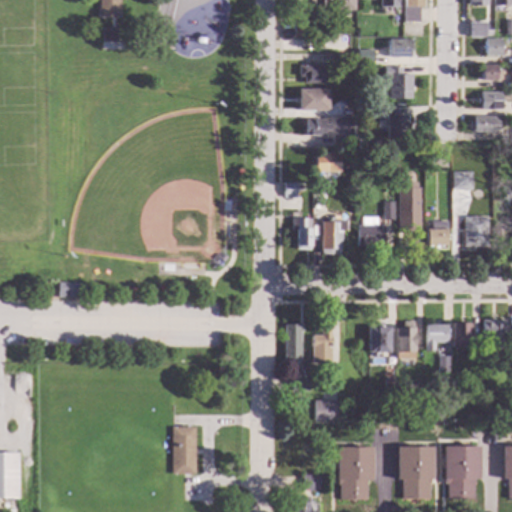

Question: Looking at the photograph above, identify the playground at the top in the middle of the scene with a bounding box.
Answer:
[174,0,230,59]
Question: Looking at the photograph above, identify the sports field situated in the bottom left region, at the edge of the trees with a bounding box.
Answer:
[40,361,186,512]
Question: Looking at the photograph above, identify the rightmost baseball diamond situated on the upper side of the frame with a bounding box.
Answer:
[70,105,226,263]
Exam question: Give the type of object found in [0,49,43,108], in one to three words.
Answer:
soccer field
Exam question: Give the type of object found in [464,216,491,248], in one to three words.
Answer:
house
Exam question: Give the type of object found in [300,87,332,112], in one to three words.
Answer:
house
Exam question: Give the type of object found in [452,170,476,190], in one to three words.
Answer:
building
